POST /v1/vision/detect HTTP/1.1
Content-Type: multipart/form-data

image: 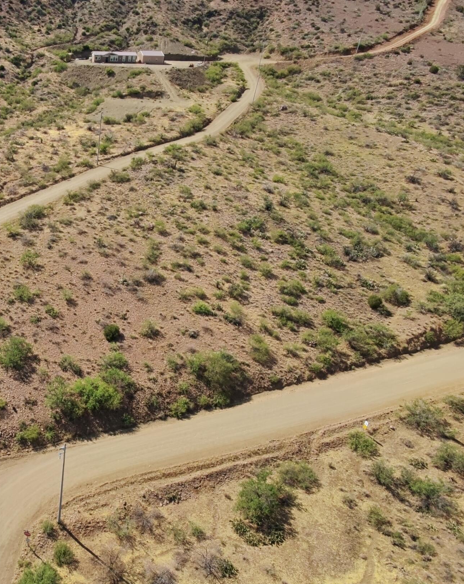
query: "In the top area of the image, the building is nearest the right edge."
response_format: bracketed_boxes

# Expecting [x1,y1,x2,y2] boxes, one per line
[139,48,167,64]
